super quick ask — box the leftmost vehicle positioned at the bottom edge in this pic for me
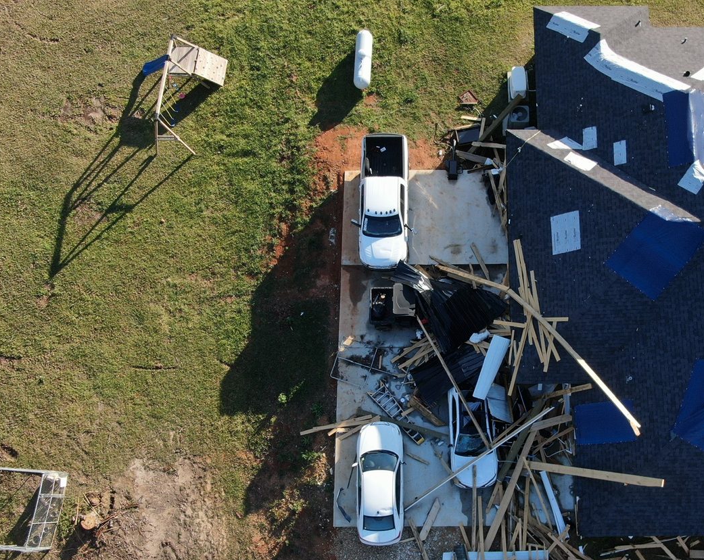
[351,421,410,550]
